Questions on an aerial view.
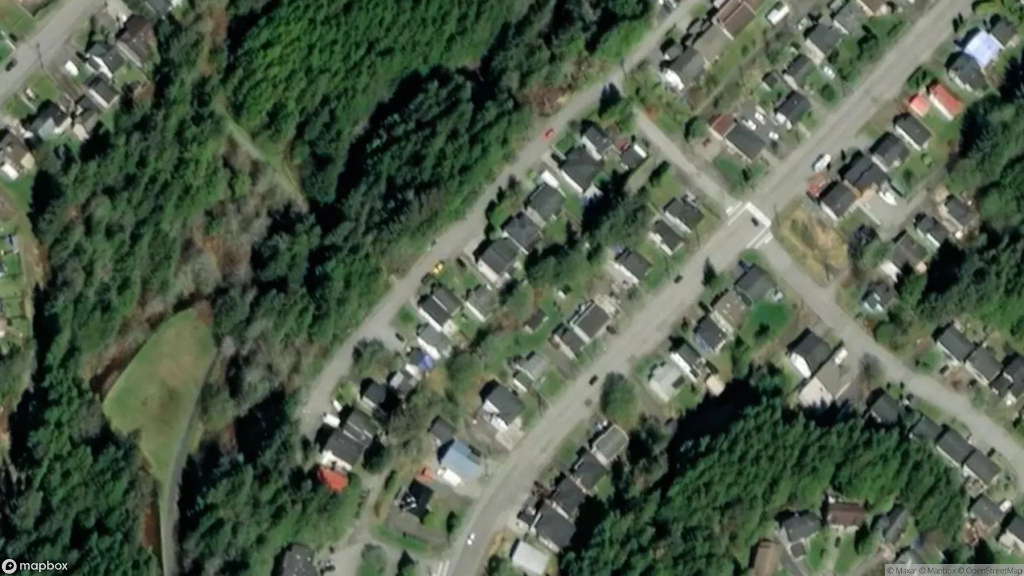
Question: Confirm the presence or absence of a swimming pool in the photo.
No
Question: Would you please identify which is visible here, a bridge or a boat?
boat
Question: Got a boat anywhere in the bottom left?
No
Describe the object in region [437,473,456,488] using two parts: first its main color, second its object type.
white vehicle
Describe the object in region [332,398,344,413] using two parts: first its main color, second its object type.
white vehicle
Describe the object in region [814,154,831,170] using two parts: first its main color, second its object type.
white camper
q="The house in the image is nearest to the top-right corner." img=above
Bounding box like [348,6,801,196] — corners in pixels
[990,20,1019,52]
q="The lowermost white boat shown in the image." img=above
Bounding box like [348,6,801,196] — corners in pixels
[879,189,898,206]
